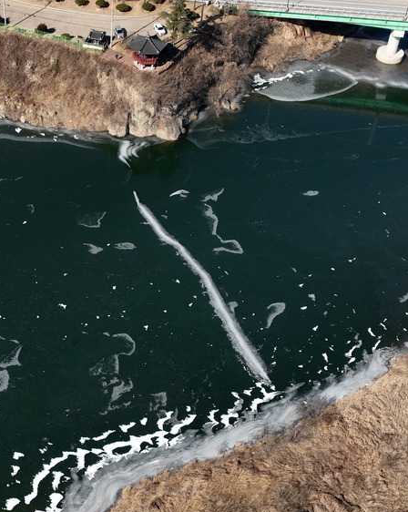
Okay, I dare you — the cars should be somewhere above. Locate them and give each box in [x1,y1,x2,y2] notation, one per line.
[154,21,167,34]
[114,22,125,37]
